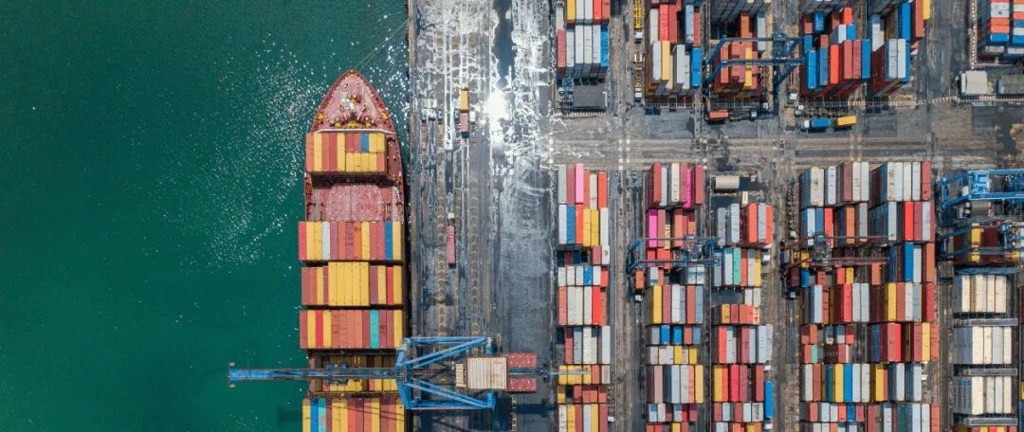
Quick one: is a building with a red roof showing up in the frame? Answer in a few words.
No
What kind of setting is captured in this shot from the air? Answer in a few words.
port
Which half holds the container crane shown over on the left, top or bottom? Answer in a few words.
bottom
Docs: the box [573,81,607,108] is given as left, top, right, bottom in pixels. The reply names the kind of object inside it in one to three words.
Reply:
building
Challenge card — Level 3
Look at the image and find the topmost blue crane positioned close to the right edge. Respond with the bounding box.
[940,169,1024,213]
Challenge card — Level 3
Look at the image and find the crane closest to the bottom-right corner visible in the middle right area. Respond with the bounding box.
[940,224,1024,261]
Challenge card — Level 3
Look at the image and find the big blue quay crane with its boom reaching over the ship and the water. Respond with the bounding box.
[227,332,590,414]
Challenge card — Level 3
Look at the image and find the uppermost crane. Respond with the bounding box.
[703,36,804,91]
